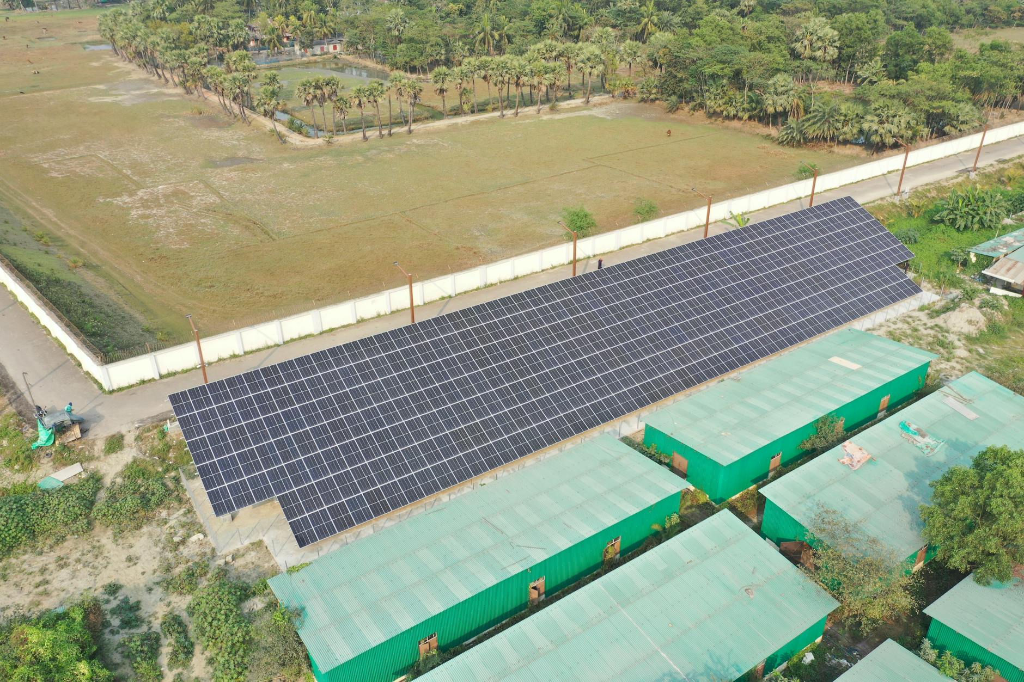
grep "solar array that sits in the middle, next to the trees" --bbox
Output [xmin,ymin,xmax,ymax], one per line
[167,196,923,550]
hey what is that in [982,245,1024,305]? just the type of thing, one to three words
shed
